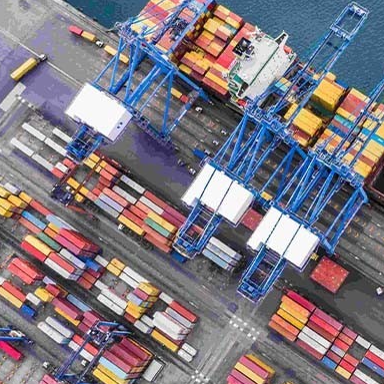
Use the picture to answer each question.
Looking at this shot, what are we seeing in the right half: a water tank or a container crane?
container crane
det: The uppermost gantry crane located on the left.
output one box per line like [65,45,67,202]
[49,0,209,177]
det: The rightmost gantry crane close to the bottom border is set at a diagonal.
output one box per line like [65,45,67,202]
[54,318,139,384]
